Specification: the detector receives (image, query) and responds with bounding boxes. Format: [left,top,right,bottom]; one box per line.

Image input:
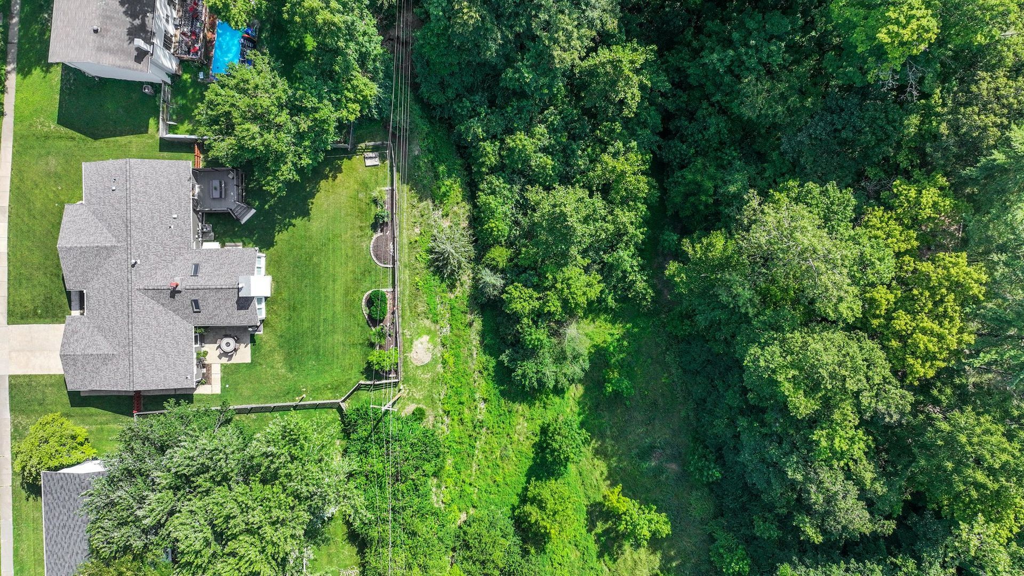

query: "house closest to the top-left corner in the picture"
[48,0,192,86]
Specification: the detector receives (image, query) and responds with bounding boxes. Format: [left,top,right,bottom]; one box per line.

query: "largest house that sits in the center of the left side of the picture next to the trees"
[54,158,273,391]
